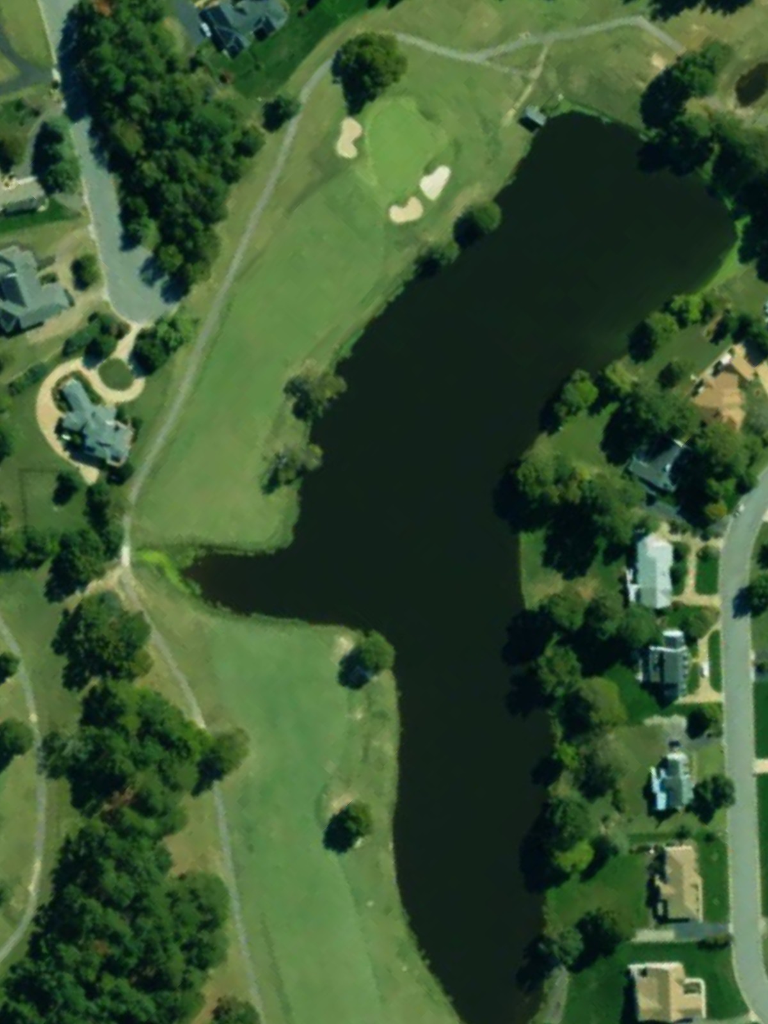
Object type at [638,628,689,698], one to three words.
house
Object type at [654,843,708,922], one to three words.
house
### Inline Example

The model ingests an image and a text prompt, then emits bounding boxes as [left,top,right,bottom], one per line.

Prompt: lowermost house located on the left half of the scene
[57,374,138,467]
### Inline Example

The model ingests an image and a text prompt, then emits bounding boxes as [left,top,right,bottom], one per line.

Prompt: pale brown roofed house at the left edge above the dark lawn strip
[0,171,46,214]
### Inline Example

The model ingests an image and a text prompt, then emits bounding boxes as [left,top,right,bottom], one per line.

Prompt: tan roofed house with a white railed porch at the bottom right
[631,963,707,1024]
